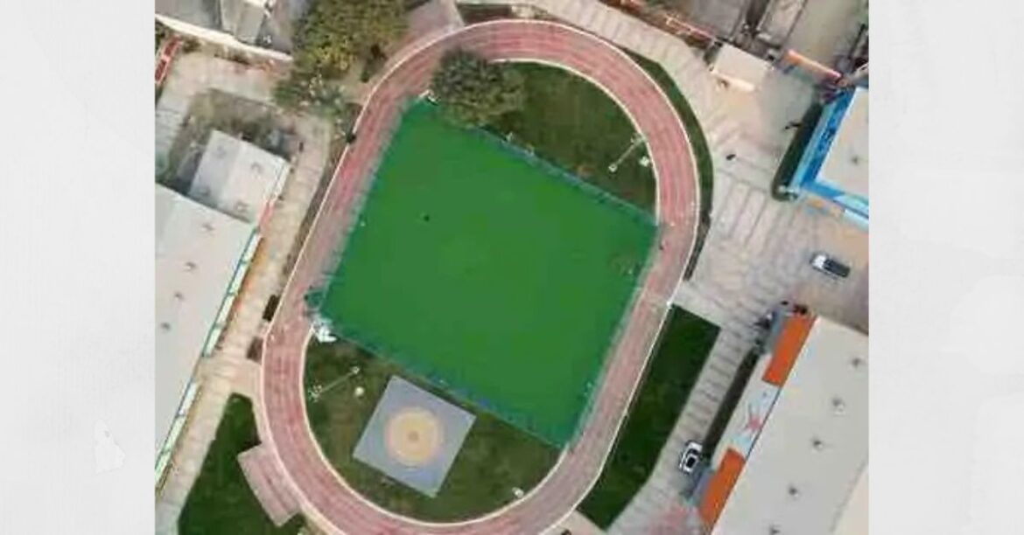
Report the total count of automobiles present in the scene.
two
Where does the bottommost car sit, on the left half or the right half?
right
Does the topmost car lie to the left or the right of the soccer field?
right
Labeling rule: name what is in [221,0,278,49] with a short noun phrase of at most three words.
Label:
house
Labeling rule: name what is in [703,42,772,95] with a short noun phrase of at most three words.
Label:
building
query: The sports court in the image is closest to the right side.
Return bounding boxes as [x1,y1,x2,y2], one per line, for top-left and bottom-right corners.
[353,376,476,498]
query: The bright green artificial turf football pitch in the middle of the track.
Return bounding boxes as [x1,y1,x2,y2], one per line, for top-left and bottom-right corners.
[325,98,654,440]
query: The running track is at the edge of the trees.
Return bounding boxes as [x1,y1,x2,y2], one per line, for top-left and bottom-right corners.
[261,20,700,535]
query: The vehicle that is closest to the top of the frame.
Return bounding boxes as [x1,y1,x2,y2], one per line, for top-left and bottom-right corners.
[813,254,854,278]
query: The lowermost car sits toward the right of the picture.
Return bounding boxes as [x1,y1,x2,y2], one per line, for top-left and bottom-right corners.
[679,441,704,476]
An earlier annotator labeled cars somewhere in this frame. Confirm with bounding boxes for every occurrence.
[679,441,704,476]
[813,254,854,278]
